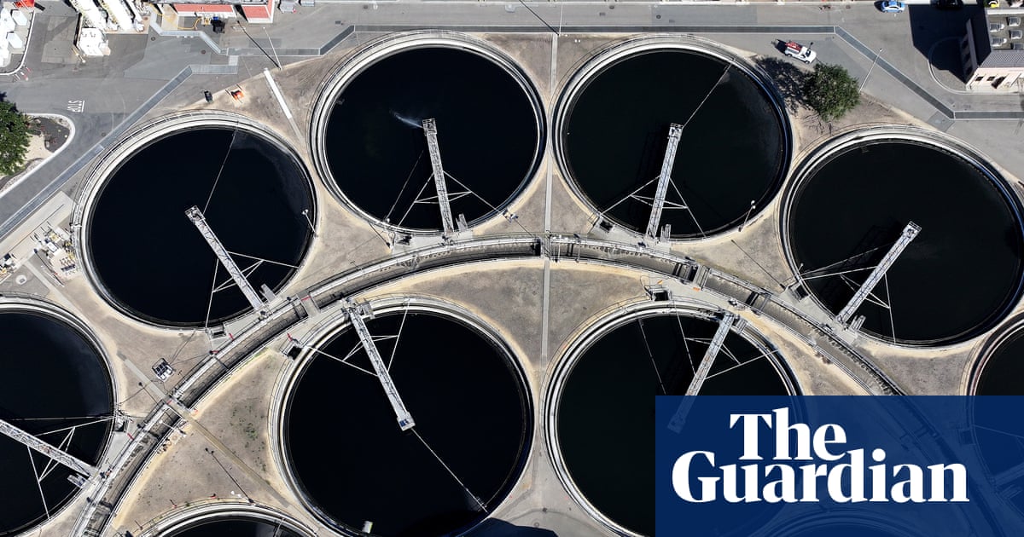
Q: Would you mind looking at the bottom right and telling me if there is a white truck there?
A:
No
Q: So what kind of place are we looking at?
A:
industrial area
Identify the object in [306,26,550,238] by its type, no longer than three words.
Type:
storage tank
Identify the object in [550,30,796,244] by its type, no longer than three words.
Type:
storage tank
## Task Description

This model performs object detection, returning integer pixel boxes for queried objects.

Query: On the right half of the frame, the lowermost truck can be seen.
[782,39,820,67]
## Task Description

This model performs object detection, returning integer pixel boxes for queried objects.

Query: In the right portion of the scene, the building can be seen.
[959,6,1024,104]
